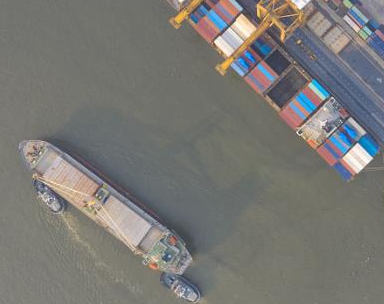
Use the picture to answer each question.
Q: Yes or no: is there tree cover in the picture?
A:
No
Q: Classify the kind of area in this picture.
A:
port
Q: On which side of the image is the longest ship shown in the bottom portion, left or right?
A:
left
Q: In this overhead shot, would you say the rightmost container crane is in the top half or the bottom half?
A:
top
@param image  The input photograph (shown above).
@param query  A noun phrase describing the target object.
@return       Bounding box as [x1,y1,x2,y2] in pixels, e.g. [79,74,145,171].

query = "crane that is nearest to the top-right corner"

[215,0,318,74]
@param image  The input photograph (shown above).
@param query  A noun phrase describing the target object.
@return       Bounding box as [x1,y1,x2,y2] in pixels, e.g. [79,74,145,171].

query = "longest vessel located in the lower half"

[21,140,195,277]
